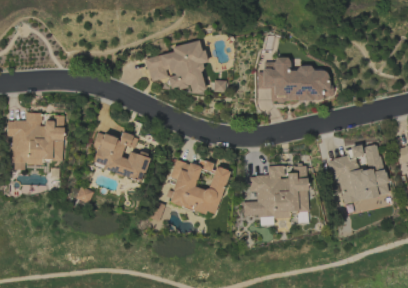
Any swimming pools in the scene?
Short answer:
Yes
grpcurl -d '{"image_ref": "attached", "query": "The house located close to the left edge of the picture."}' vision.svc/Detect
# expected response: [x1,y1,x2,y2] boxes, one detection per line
[6,113,65,170]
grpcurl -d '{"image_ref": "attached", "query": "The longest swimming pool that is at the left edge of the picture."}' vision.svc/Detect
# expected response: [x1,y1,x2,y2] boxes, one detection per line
[16,174,48,186]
